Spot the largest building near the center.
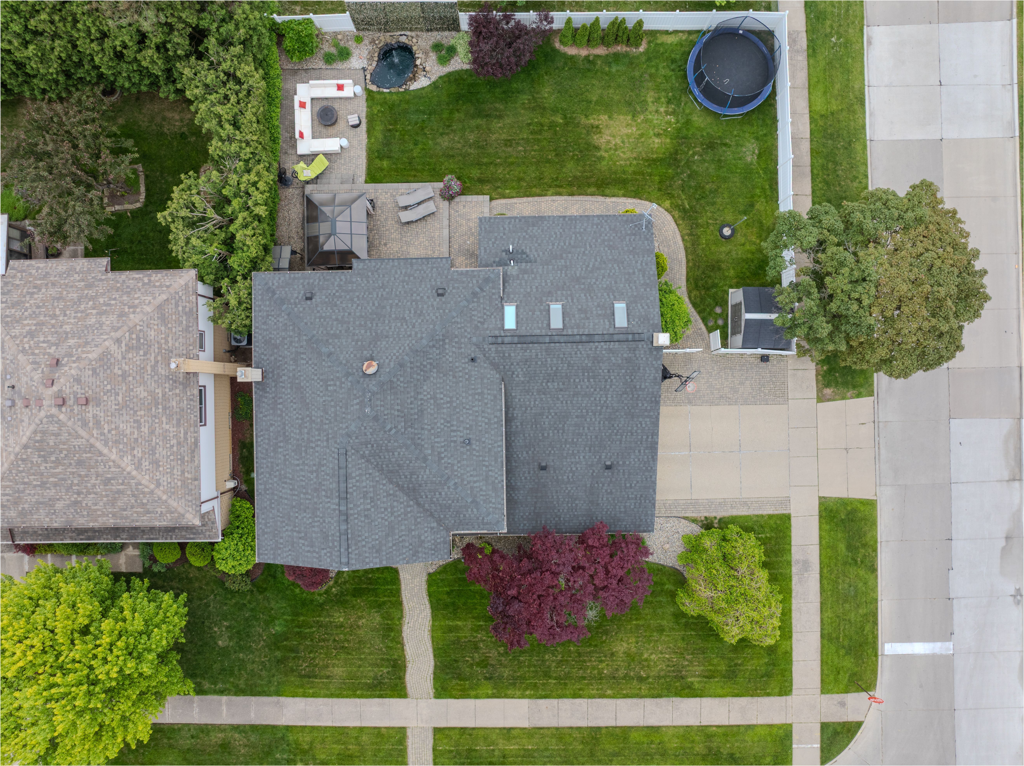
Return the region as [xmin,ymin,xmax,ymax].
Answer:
[236,211,670,572]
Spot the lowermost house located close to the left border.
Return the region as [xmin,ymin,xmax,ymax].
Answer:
[0,256,244,545]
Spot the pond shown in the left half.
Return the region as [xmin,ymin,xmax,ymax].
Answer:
[368,38,417,93]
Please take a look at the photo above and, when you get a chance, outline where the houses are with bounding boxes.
[0,256,244,545]
[236,211,670,572]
